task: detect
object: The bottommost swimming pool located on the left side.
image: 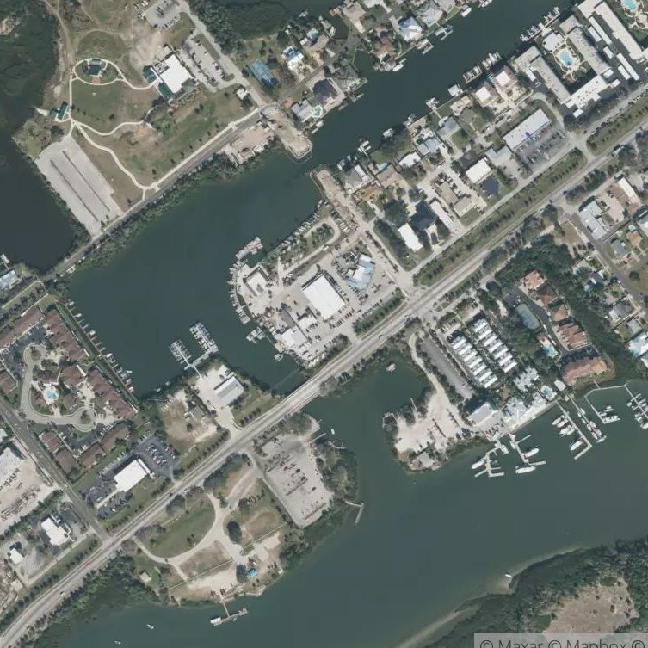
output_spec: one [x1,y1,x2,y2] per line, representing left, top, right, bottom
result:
[39,385,63,405]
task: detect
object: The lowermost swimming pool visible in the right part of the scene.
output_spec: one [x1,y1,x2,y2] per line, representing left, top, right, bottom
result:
[541,385,557,401]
